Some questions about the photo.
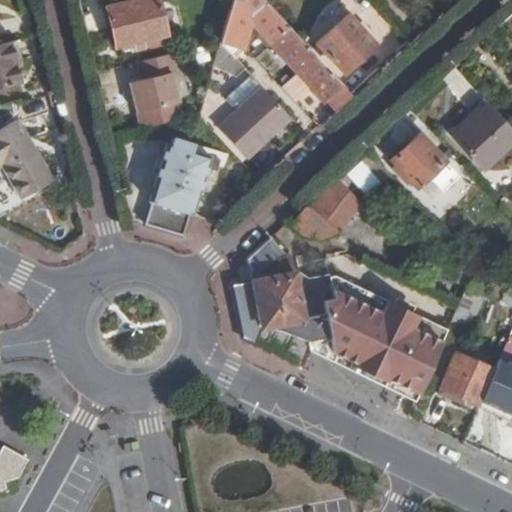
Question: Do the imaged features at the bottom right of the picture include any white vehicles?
Yes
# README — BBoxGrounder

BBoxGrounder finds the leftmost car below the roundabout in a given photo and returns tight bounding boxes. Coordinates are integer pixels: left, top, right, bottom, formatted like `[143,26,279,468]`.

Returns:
[120,468,142,480]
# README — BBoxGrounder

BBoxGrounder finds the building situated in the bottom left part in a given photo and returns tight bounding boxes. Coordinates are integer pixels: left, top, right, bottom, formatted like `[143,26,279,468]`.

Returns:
[0,444,30,494]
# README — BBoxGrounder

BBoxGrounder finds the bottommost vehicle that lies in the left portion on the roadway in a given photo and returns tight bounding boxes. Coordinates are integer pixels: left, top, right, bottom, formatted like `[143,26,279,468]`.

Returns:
[147,492,170,508]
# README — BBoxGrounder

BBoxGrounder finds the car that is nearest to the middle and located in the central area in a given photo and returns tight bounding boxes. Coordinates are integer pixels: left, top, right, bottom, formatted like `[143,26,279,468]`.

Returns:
[241,230,260,249]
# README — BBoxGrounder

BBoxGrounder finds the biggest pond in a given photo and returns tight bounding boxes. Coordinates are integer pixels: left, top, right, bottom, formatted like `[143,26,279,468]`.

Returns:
[212,460,272,502]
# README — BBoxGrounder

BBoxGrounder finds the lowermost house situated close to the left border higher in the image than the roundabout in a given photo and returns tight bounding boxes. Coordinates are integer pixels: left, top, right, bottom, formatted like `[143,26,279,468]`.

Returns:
[0,119,54,200]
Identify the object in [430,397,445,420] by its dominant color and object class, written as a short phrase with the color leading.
white car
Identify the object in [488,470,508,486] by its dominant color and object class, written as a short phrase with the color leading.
white car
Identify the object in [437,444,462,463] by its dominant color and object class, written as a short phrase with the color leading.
white vehicle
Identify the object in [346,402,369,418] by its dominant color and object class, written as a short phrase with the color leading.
gray car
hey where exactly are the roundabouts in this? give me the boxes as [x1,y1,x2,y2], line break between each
[36,245,218,414]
